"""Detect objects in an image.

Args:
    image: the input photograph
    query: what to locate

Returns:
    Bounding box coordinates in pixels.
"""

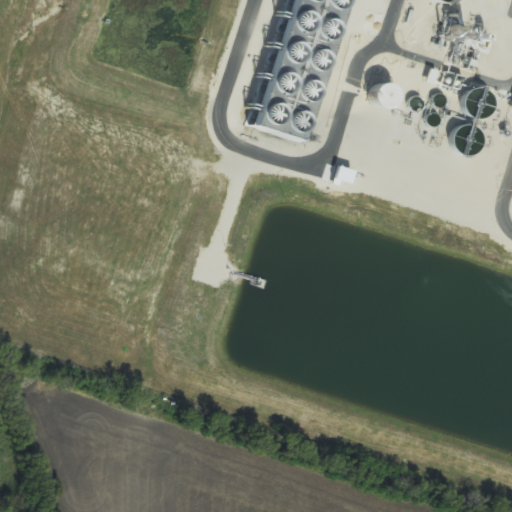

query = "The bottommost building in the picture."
[332,165,358,186]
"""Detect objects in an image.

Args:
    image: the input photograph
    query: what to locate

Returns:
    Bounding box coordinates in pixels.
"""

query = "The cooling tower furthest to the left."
[242,0,356,146]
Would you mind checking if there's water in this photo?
Yes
